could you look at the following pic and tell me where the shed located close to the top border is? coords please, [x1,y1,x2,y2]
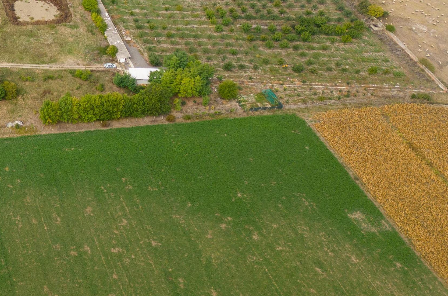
[98,0,131,64]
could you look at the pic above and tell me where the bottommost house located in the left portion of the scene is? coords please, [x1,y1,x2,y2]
[132,66,165,85]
